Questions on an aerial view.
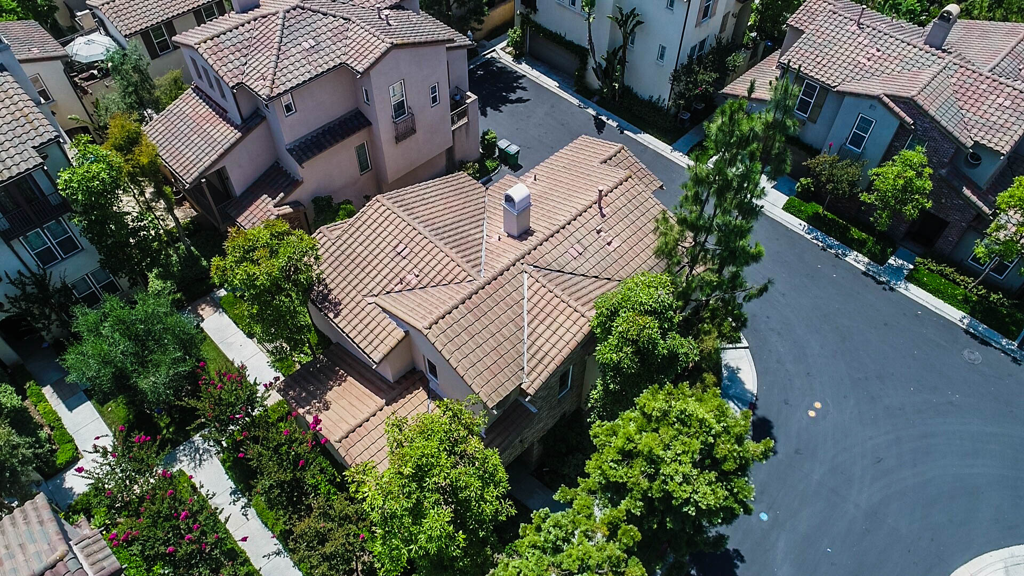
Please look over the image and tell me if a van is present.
No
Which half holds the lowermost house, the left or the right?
left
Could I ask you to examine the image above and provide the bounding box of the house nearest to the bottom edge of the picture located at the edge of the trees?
[0,496,149,576]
